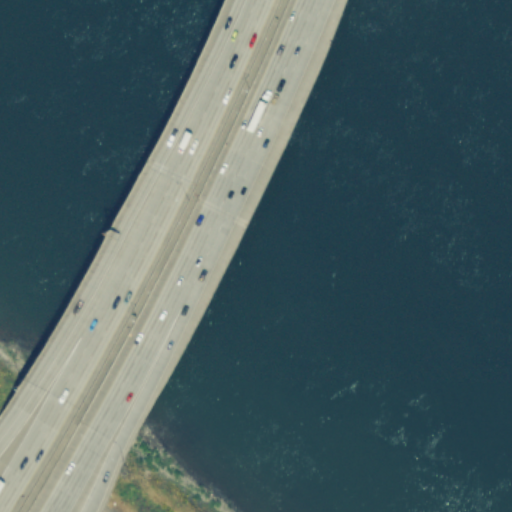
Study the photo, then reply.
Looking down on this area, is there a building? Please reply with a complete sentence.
No, no building can be seen from above.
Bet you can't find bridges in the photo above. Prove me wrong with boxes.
[0,0,348,512]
